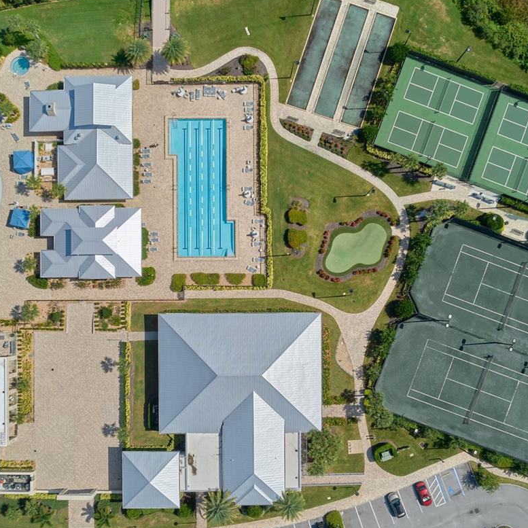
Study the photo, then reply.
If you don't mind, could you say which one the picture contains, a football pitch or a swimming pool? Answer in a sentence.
The image shows a swimming pool.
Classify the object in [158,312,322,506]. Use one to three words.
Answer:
building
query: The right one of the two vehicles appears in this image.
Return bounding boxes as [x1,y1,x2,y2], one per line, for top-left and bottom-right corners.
[414,480,432,507]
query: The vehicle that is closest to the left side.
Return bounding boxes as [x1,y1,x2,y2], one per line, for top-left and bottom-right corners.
[387,491,405,518]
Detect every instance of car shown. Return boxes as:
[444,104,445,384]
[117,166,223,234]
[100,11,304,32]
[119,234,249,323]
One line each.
[414,480,432,507]
[387,491,405,518]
